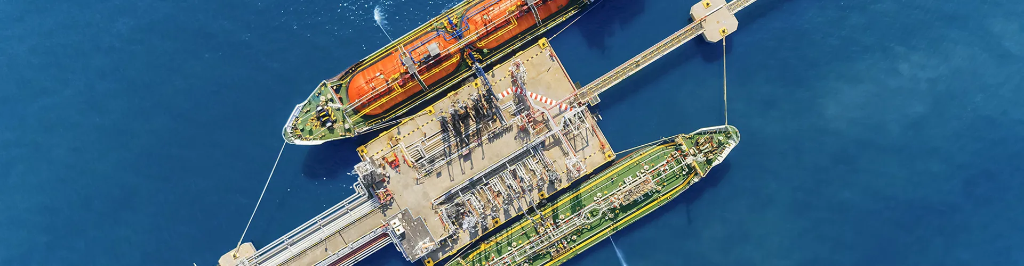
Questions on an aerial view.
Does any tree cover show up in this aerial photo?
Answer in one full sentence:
No, no tree cover is visible.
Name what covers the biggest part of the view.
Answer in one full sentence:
The scene is dominated by water.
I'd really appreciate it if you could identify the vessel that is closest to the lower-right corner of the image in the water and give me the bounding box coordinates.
[438,123,740,266]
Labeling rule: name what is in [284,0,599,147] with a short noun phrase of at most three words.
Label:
ship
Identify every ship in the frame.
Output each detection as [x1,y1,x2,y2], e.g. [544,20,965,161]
[438,123,740,266]
[284,0,599,147]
